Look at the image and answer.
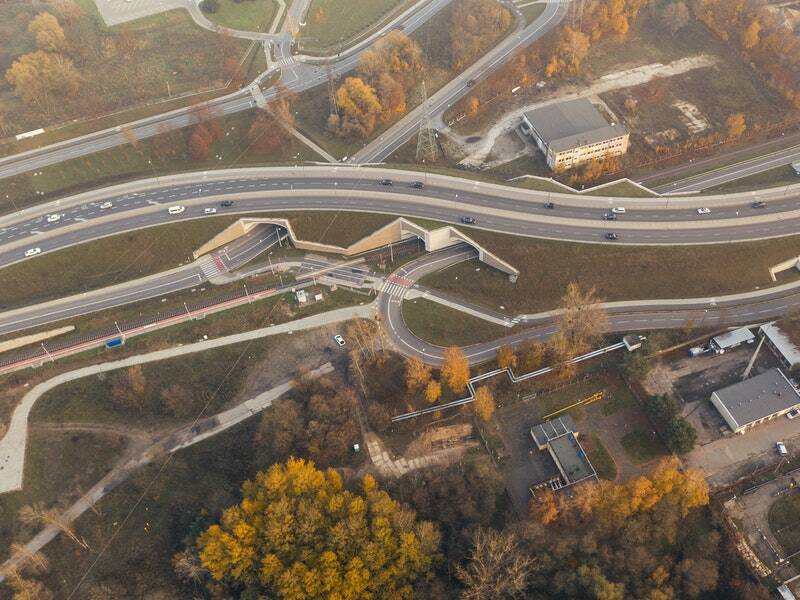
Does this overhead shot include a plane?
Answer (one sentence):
No, the picture doesn't show any plane.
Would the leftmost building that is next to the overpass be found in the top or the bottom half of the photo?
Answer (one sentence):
The leftmost building that is next to the overpass sits in the top half of the picture.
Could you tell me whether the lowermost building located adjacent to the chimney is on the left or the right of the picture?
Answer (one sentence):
The lowermost building located adjacent to the chimney appears in the right half of the scene.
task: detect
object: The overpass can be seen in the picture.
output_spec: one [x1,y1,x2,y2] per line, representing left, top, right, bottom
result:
[0,166,800,269]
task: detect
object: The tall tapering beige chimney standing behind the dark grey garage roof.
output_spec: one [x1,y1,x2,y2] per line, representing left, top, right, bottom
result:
[740,334,766,380]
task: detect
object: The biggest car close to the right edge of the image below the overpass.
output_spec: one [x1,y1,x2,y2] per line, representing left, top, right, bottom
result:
[774,438,790,460]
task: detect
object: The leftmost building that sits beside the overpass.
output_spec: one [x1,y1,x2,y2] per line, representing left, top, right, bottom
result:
[523,96,630,170]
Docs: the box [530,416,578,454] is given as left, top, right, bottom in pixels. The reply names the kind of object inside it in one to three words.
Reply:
building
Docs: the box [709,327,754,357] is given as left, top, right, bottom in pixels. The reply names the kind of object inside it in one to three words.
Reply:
shed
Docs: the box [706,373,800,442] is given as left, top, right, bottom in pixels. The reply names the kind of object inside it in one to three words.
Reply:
building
